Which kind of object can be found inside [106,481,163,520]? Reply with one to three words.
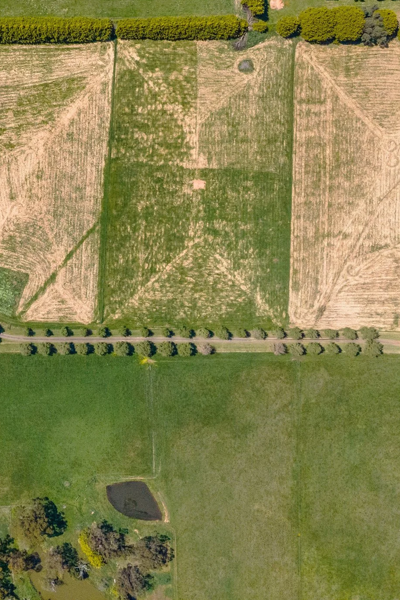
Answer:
pond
